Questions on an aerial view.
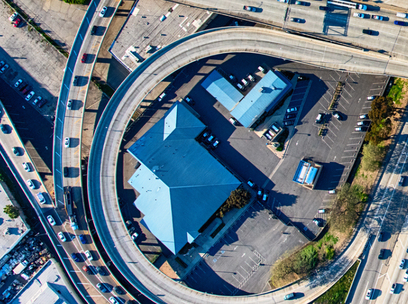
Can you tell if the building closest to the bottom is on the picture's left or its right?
left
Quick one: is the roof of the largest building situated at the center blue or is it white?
blue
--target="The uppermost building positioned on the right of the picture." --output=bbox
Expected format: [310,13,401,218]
[202,69,294,129]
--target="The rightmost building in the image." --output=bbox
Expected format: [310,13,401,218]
[292,157,326,189]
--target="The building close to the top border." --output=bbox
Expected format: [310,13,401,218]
[109,0,218,71]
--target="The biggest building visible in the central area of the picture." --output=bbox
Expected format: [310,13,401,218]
[128,102,244,255]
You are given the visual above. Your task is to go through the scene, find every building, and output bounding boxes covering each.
[292,157,326,189]
[202,69,294,129]
[8,256,87,304]
[109,0,218,71]
[0,168,38,264]
[128,102,244,255]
